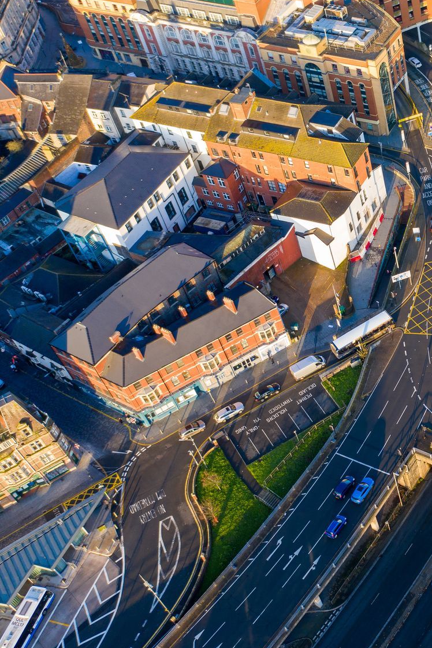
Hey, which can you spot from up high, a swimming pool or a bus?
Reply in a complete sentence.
Looking from above, you can make out a bus.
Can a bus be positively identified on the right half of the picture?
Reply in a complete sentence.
Yes, looking on the right half of the picture, one can make out a bus.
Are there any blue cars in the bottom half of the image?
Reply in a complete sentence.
Yes, looking in the bottom half of the image, one can make out a blue car.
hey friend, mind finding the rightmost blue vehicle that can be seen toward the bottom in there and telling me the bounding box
[352,479,375,503]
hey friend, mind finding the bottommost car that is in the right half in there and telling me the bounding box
[324,515,348,540]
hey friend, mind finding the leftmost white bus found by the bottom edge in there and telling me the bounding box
[0,585,55,648]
